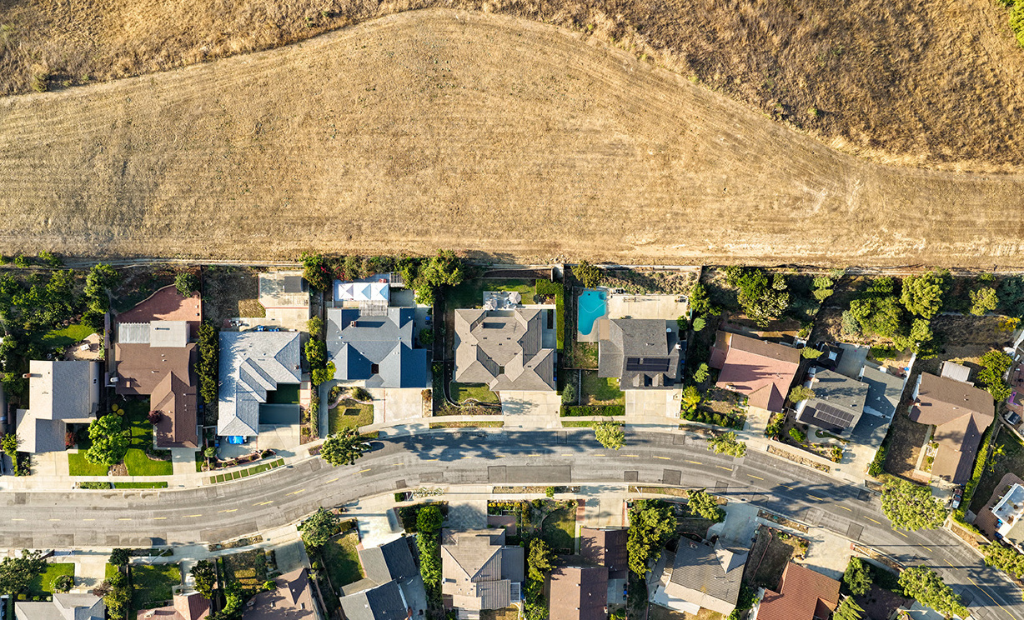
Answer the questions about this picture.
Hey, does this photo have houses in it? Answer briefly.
Yes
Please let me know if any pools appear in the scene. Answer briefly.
Yes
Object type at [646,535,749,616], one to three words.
house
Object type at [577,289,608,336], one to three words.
swimming pool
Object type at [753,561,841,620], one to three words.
house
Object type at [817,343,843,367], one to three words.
gazebo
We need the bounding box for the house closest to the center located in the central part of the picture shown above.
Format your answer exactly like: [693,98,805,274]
[455,309,554,391]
